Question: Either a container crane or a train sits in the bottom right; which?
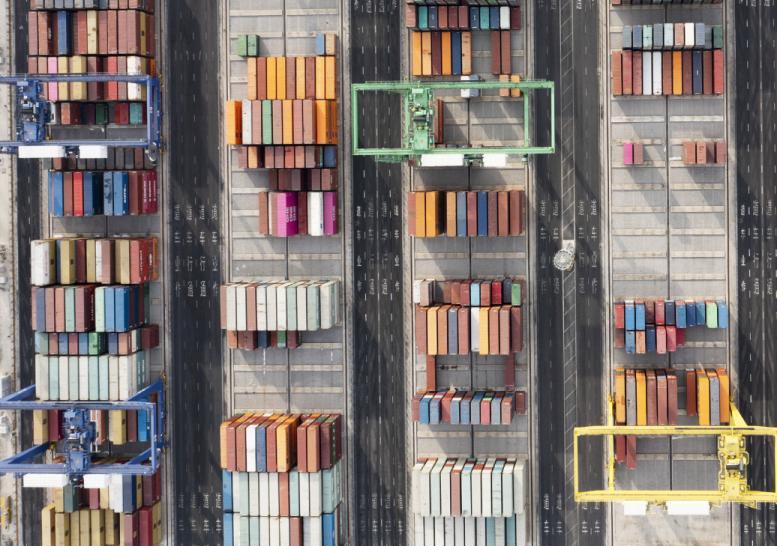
container crane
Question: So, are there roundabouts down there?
No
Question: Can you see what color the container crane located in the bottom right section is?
yellow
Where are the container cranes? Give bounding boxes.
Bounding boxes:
[351,74,555,177]
[574,384,777,516]
[0,360,166,486]
[0,68,166,170]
